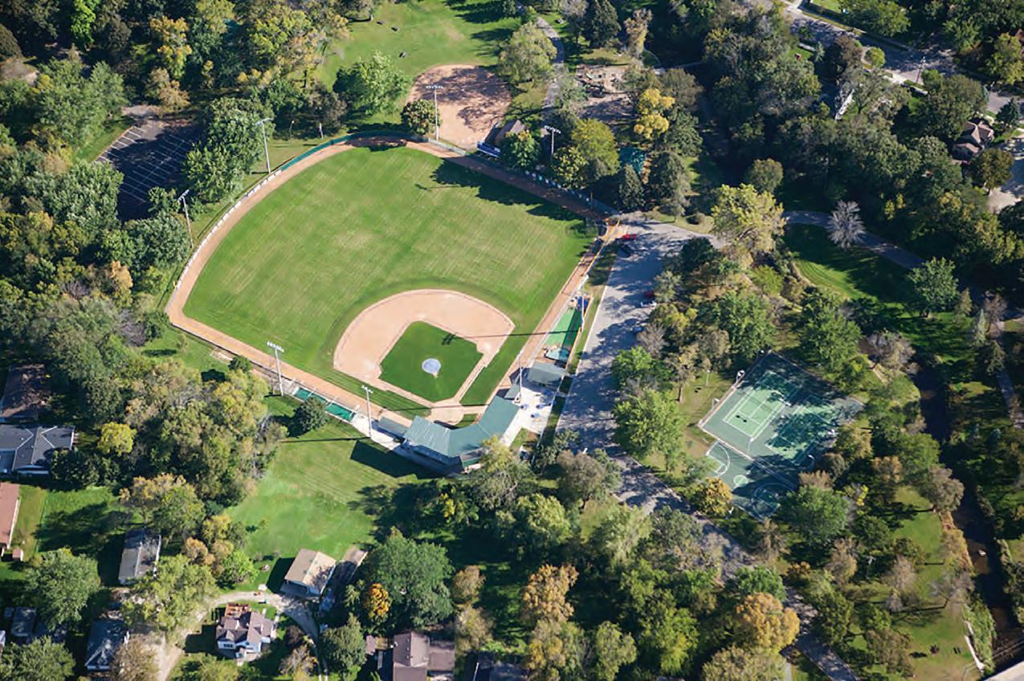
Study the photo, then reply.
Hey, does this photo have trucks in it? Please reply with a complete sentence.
No, the scene contains no truck.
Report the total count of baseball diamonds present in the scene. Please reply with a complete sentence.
In total, there are 2 baseball diamonds in the scene.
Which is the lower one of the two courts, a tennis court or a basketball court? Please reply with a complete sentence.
Looking closely, the lower one of the two courts is a basketball court.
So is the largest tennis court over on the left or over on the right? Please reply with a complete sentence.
The largest tennis court sits on the right side.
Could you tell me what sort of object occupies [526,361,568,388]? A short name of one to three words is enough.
building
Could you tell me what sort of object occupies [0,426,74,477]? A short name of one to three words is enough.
house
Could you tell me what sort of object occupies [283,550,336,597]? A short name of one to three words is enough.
building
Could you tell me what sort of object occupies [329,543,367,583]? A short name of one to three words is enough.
shed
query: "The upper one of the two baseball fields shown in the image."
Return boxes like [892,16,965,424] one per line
[407,65,512,151]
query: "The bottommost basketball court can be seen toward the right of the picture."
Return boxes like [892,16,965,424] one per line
[690,441,793,522]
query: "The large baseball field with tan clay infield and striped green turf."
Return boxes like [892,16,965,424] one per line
[166,131,619,430]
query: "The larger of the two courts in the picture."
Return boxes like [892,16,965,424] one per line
[699,351,863,484]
